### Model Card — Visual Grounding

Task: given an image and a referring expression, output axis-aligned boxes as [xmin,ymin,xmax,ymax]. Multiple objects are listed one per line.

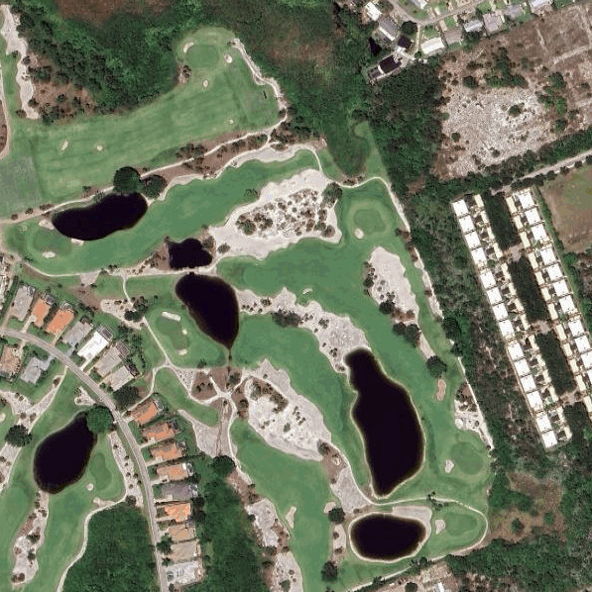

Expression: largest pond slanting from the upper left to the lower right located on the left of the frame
[175,273,239,363]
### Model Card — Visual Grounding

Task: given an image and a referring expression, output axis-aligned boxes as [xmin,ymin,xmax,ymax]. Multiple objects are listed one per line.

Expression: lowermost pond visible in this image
[351,514,425,561]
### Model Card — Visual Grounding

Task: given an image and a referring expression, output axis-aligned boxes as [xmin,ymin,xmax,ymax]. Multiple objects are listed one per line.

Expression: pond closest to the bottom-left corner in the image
[33,412,97,493]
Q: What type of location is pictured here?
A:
golf course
